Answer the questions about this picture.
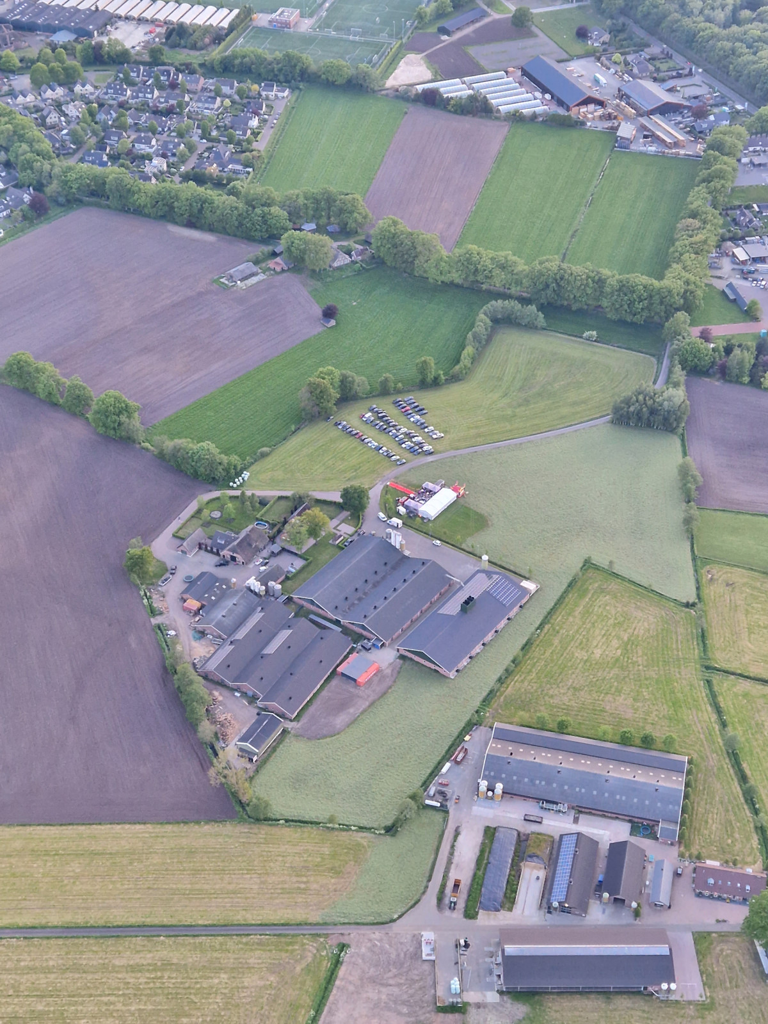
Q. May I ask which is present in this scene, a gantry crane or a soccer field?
soccer field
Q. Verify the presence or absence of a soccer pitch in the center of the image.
No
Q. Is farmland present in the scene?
Yes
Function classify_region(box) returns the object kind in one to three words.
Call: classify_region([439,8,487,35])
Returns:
shed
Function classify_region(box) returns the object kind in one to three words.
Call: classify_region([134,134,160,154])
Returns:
house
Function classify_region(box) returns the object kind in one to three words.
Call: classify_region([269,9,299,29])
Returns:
building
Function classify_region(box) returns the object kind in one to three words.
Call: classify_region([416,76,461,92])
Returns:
greenhouse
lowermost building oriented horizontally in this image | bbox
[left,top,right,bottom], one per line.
[498,928,676,993]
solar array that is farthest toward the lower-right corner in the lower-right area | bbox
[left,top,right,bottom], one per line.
[551,832,578,902]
